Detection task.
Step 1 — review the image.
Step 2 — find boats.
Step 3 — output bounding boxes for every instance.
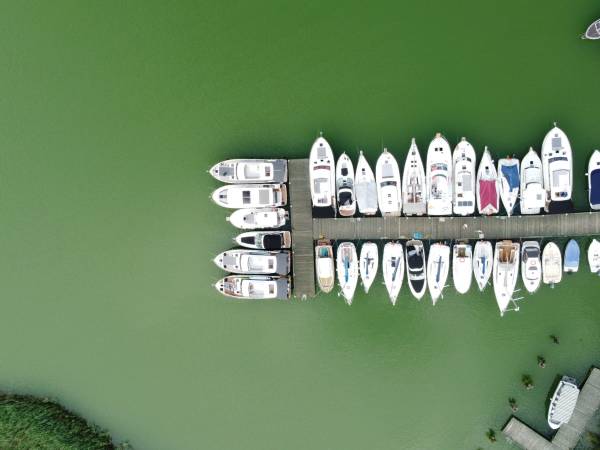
[376,148,403,222]
[452,137,476,220]
[336,238,359,306]
[582,22,600,39]
[550,374,582,429]
[316,240,336,294]
[542,239,562,288]
[587,235,600,277]
[472,236,492,293]
[426,240,450,306]
[564,236,580,277]
[233,231,298,249]
[335,151,356,221]
[209,250,298,274]
[497,156,522,217]
[309,132,336,219]
[453,239,472,294]
[359,240,379,295]
[226,208,291,228]
[520,236,542,294]
[518,147,544,215]
[205,159,294,183]
[543,123,575,218]
[210,274,296,300]
[425,131,452,220]
[491,237,524,318]
[401,135,427,221]
[405,240,427,301]
[208,183,294,210]
[382,240,404,307]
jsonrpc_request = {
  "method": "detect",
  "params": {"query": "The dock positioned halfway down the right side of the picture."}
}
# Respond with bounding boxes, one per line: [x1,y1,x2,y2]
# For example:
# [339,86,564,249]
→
[288,158,600,298]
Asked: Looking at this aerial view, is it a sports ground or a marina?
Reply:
marina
